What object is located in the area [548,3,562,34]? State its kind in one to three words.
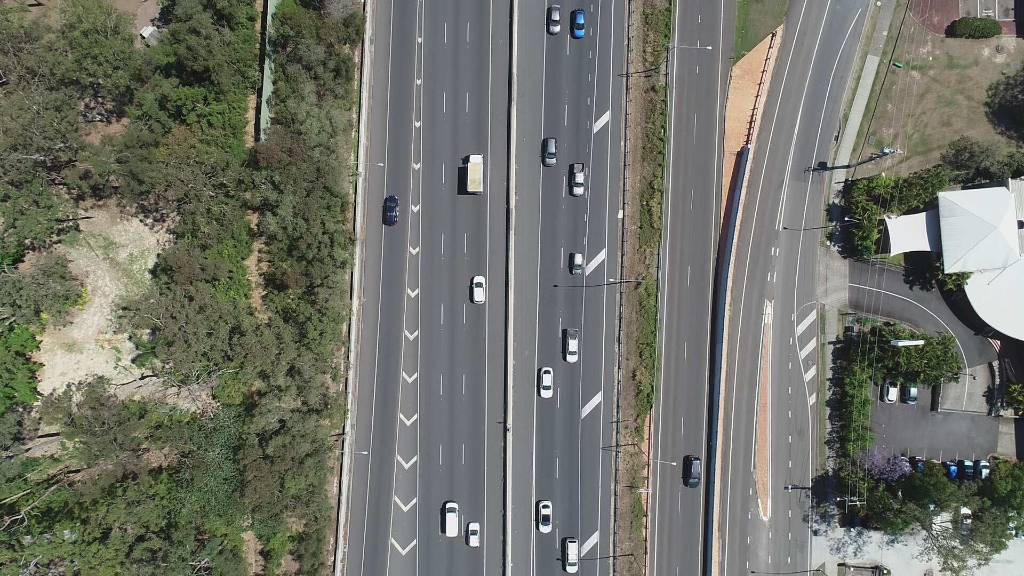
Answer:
car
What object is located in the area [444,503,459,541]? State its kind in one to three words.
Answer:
vehicle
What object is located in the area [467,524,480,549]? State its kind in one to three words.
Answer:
vehicle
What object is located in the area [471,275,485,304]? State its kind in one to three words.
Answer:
car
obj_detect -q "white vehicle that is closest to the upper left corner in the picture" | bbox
[466,153,484,194]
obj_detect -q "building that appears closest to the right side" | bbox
[935,179,1024,339]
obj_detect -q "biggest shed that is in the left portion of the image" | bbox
[131,14,171,50]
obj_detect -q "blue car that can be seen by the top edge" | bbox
[573,6,587,38]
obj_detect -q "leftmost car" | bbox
[383,195,398,225]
